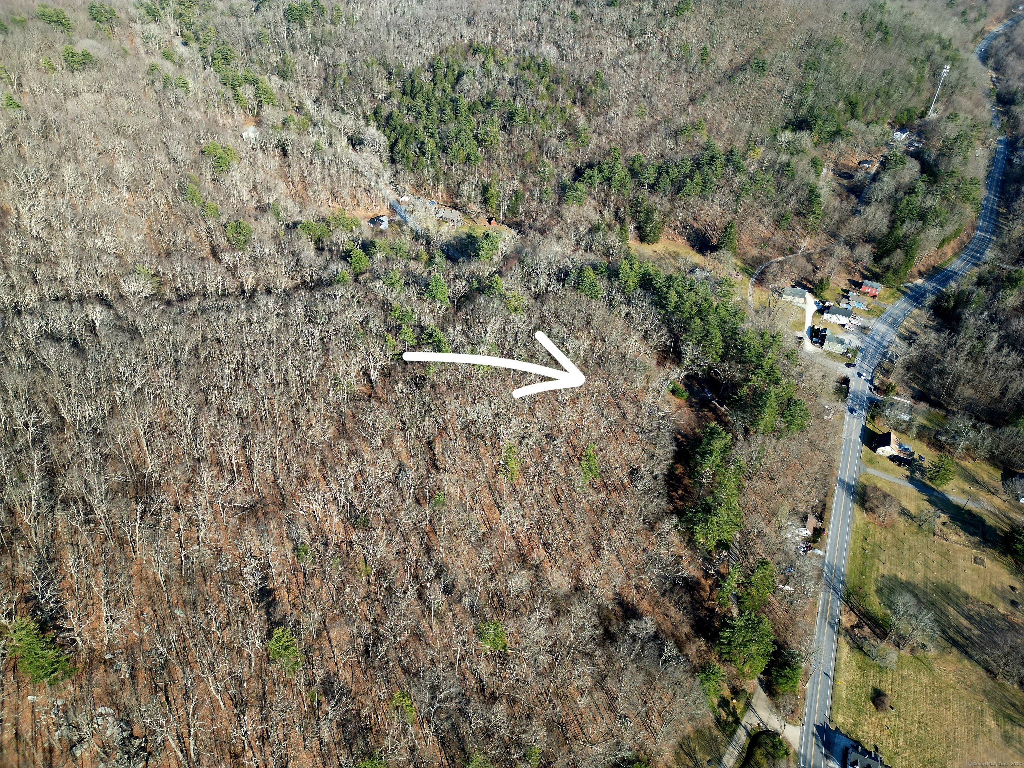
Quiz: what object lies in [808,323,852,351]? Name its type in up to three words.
building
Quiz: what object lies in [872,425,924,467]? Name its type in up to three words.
house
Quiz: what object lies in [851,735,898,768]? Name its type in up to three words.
house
